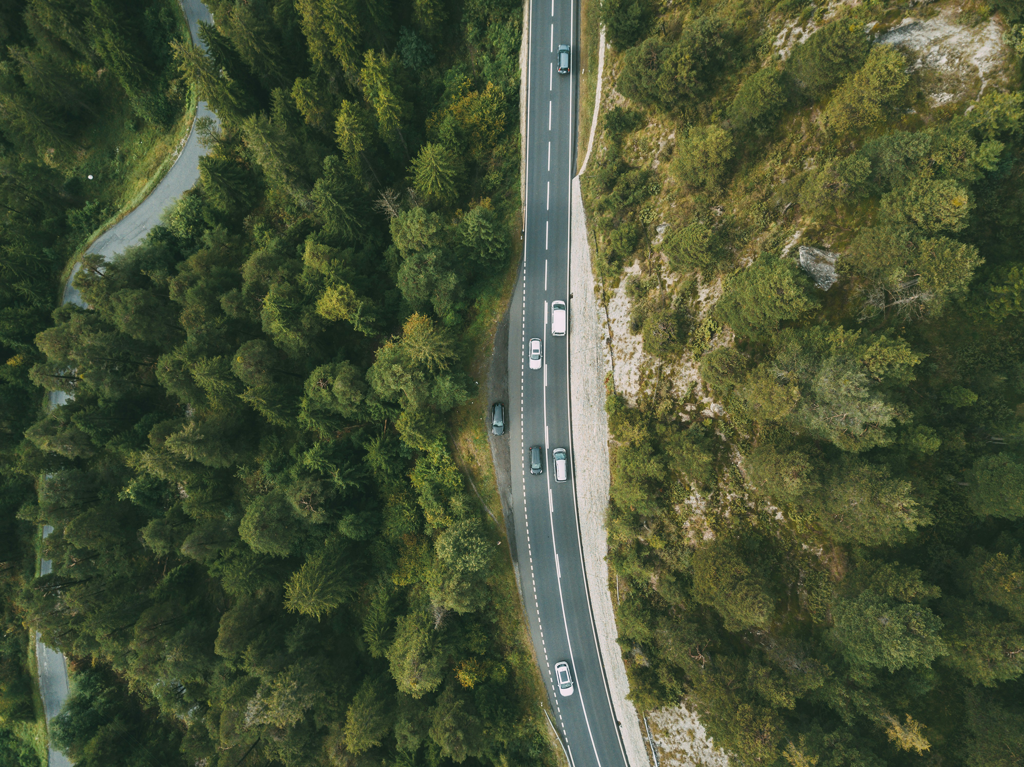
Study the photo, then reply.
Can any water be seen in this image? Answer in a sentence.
No, there is no water in the image.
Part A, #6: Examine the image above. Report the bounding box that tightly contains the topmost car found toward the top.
[557,45,571,76]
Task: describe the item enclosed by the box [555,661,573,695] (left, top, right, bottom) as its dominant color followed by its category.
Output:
white car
